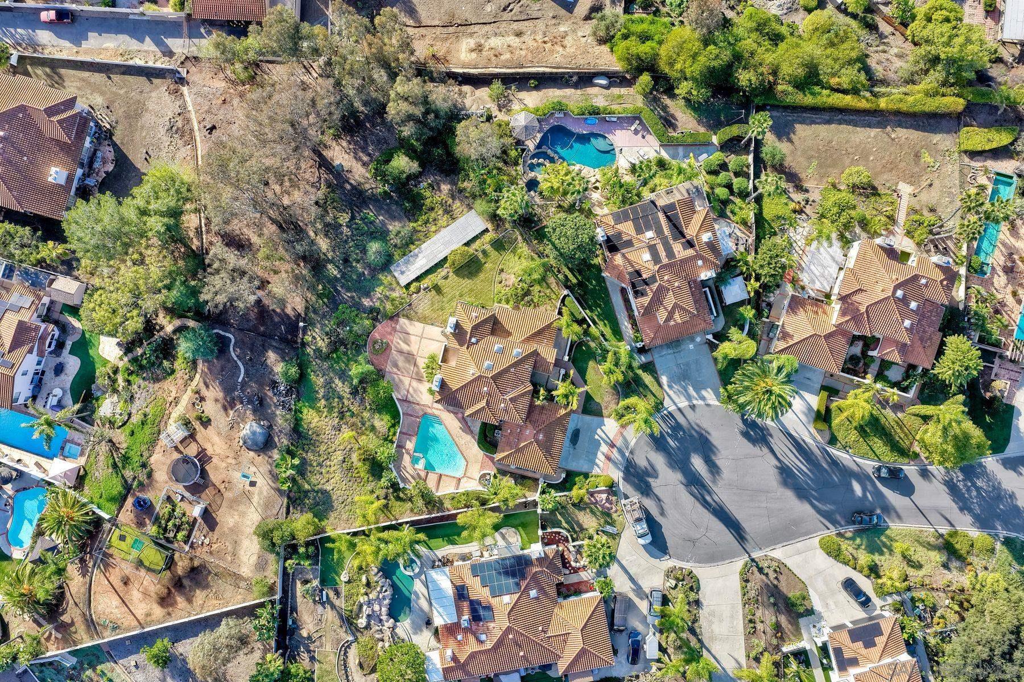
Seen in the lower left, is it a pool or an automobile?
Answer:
pool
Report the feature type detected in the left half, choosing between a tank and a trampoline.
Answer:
trampoline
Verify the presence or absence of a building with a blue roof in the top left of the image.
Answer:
No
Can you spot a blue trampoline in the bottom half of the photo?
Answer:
Yes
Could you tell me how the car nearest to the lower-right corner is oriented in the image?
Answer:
on a diagonal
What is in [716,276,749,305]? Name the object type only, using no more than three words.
gazebo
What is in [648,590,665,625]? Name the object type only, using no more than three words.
car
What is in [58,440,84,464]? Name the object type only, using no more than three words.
swimming pool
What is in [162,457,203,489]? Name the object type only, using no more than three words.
trampoline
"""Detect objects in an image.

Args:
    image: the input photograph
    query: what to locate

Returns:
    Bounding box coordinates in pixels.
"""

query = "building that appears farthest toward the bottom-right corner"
[818,609,921,682]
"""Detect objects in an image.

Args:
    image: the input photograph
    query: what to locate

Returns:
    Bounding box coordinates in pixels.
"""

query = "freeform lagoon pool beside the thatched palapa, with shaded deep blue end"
[535,123,619,170]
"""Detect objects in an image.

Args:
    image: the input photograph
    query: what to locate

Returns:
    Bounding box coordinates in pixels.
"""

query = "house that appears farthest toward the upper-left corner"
[0,72,99,220]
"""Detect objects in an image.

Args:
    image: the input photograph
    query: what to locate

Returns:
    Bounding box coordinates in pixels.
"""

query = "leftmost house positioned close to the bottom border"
[439,536,615,682]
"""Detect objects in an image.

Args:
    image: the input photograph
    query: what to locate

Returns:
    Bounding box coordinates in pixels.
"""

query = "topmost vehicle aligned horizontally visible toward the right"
[873,465,908,481]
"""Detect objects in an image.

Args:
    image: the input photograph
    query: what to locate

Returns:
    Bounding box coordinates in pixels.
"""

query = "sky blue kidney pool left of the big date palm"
[5,485,51,552]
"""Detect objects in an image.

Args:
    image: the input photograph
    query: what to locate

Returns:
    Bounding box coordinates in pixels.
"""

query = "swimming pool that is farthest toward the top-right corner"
[970,168,1018,279]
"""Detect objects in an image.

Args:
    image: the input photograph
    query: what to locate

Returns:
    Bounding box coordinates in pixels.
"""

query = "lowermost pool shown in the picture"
[377,557,416,625]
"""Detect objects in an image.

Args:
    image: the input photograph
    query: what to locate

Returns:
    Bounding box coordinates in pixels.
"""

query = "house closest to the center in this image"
[430,301,573,476]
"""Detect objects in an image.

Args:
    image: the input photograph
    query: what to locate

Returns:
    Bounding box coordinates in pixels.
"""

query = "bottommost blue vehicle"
[628,632,644,667]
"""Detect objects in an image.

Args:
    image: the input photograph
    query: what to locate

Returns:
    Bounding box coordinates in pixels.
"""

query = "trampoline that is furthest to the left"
[132,496,149,512]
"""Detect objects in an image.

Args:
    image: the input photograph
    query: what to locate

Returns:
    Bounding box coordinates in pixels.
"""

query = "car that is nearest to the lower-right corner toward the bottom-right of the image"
[843,577,873,611]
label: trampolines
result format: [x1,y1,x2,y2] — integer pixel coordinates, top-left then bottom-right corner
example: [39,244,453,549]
[162,457,203,489]
[132,496,149,512]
